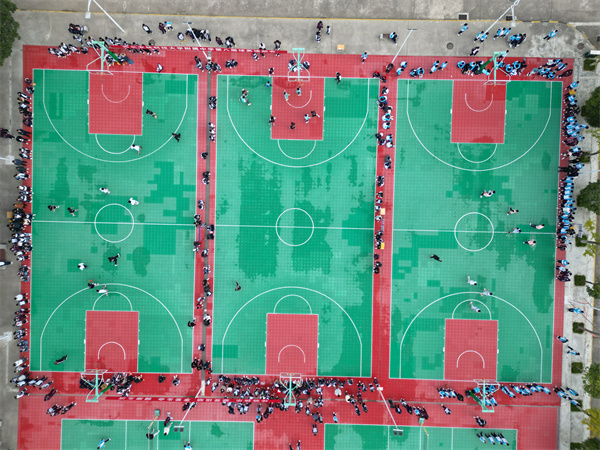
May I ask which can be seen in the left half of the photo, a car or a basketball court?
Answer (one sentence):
It is a basketball court that can be seen in the left half of the photo.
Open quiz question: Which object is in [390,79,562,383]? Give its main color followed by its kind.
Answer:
green basketball court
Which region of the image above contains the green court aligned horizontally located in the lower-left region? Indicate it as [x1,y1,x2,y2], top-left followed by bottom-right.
[60,418,254,450]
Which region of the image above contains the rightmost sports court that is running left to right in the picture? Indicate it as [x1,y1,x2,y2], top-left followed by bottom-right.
[324,424,517,450]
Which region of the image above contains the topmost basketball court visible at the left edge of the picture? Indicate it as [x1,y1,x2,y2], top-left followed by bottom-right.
[30,69,197,373]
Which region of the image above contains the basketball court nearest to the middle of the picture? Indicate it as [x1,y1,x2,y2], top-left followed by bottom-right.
[212,75,380,377]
